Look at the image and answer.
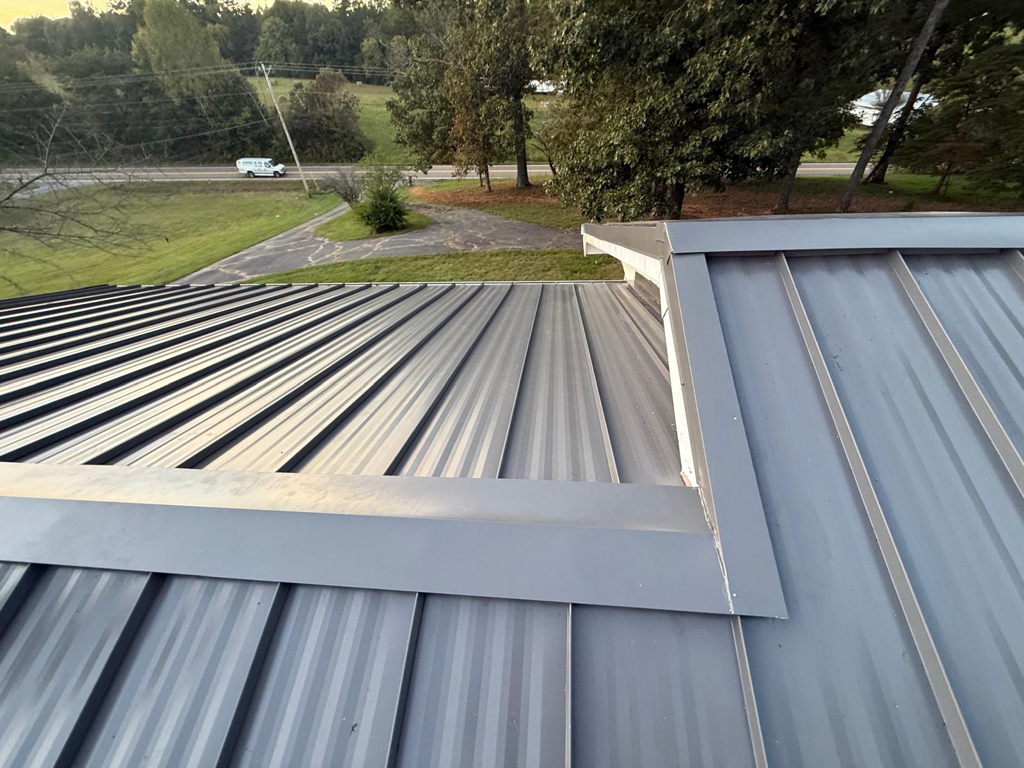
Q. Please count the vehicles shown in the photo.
1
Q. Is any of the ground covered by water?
No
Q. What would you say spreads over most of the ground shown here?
buildings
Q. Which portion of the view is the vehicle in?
top left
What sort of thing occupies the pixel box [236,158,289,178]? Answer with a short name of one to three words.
vehicle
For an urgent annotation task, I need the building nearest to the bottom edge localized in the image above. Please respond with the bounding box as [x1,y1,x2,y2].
[0,209,1024,768]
